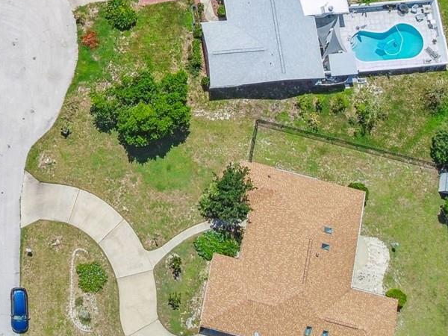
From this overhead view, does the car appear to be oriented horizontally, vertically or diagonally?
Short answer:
vertically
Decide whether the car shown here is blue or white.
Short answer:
blue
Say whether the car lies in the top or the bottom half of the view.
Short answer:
bottom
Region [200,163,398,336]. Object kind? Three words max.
house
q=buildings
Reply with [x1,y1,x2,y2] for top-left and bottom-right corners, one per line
[200,163,398,336]
[428,174,448,192]
[202,0,324,89]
